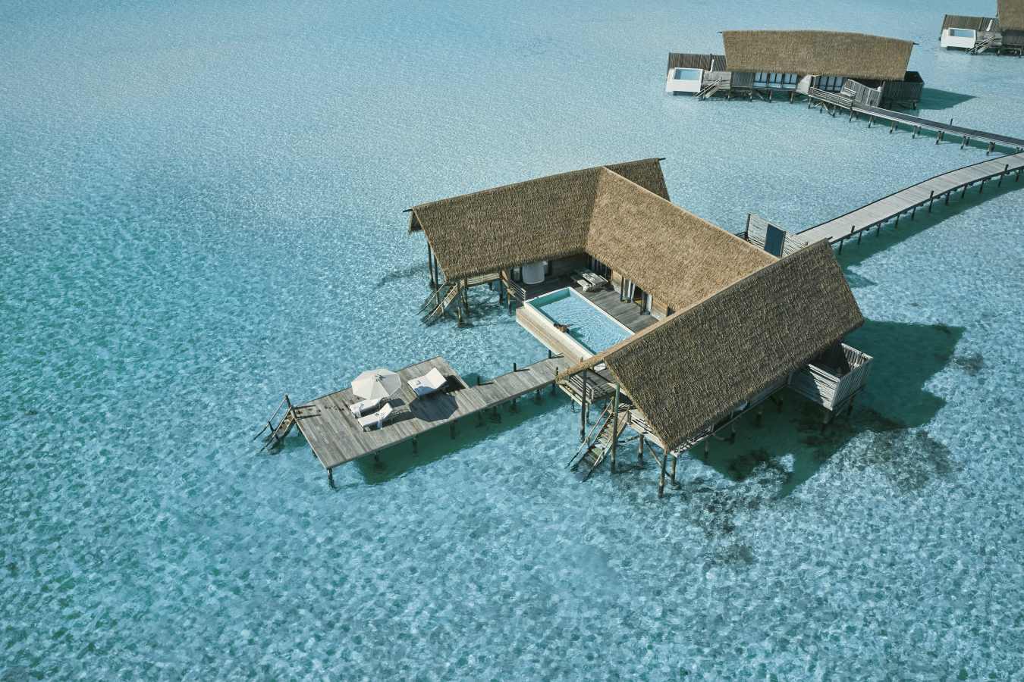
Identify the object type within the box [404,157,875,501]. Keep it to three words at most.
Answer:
house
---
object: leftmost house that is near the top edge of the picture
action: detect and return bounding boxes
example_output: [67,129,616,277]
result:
[674,30,923,121]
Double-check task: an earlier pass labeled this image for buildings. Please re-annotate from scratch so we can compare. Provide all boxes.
[404,157,875,501]
[674,30,923,121]
[944,0,1024,58]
